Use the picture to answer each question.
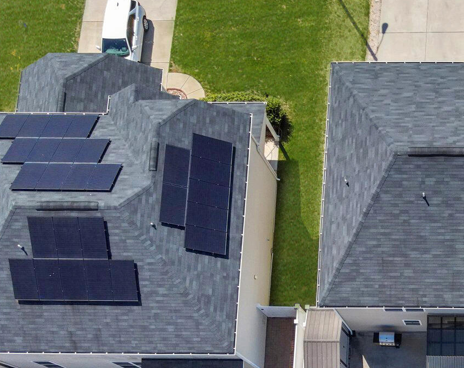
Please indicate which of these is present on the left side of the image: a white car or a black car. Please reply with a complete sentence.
It is a white car that can be seen on the left side of the image.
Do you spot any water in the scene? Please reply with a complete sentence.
No, the picture contains no water.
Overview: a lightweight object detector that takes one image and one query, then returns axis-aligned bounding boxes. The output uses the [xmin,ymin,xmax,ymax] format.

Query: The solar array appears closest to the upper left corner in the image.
[0,115,122,191]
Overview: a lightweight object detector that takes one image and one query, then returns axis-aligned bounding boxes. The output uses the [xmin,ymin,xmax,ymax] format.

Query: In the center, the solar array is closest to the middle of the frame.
[159,133,234,256]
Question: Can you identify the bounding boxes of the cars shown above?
[97,1,147,64]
